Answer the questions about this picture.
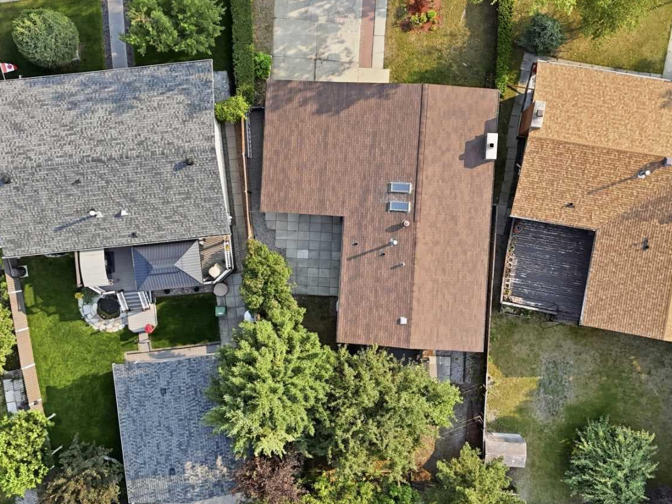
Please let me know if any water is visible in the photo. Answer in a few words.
No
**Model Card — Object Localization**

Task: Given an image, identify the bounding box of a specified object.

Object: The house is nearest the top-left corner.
[0,59,233,258]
